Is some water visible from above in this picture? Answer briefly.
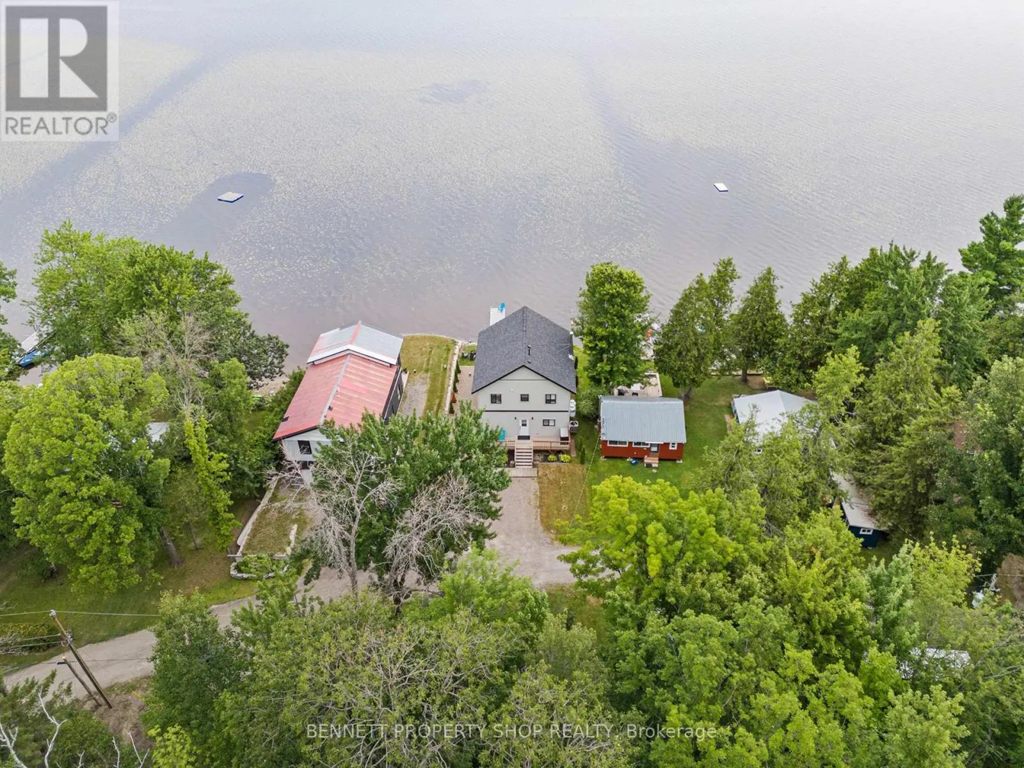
Yes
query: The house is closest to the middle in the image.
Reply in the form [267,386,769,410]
[471,306,578,472]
